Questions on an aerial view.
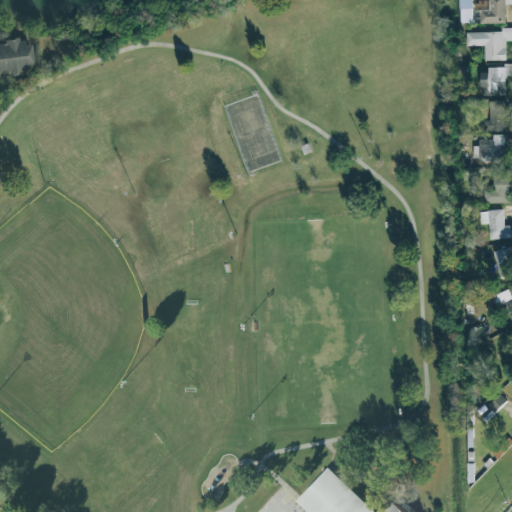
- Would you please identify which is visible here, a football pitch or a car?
football pitch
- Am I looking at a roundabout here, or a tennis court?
tennis court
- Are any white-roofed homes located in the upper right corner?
Yes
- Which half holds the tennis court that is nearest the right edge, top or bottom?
top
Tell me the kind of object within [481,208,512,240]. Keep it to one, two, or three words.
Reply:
house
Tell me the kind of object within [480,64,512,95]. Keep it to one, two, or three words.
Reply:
house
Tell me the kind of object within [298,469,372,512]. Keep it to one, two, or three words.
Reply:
building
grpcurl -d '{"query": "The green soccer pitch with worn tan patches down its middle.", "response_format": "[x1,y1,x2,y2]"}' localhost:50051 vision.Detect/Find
[248,218,394,427]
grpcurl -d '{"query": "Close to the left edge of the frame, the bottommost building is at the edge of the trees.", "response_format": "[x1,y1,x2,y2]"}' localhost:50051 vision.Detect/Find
[0,36,34,75]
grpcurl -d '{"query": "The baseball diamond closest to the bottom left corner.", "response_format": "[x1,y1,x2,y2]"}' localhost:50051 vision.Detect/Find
[0,189,143,450]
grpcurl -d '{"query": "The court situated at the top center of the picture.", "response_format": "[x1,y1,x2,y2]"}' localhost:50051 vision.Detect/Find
[226,96,280,171]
